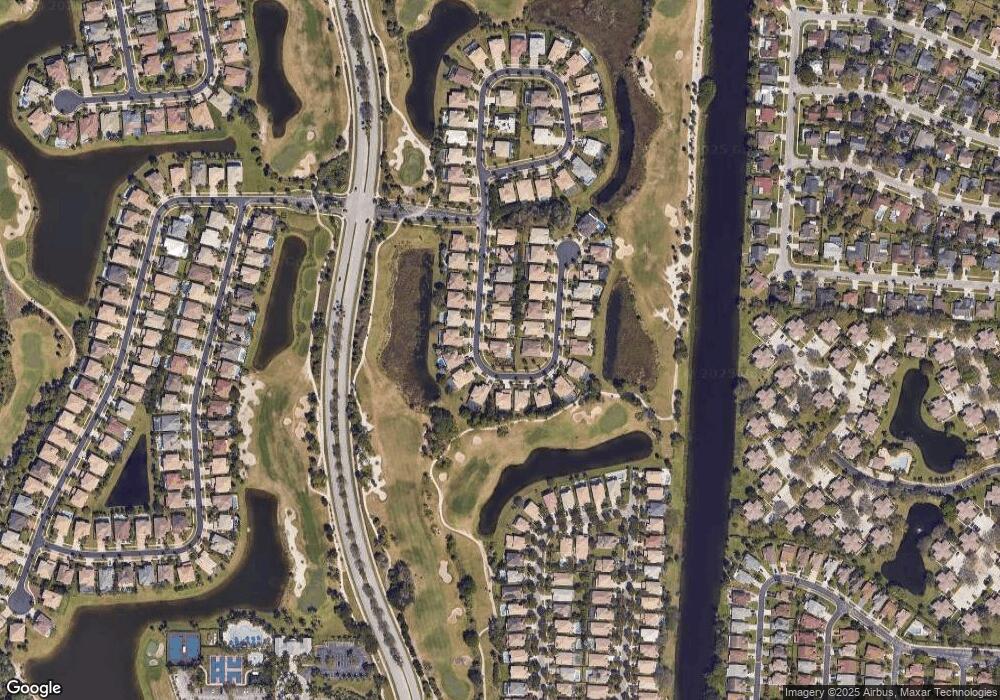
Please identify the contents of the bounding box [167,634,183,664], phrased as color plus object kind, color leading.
blue tennis court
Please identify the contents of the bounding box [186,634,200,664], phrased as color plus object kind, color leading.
blue tennis court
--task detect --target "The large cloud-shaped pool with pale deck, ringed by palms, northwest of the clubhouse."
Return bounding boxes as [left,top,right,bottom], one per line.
[223,620,271,649]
